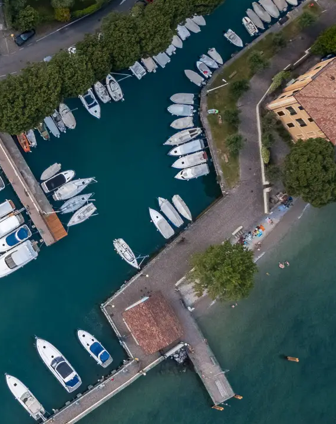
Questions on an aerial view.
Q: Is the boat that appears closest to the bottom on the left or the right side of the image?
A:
left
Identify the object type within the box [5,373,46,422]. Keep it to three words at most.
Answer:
boat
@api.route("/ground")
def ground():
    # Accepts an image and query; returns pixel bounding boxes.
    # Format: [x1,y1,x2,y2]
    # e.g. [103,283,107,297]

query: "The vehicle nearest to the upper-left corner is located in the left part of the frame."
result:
[12,28,37,47]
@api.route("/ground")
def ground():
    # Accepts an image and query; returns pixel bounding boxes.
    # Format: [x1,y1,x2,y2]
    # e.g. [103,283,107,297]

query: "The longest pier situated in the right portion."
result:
[189,312,235,405]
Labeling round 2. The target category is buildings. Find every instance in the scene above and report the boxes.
[274,57,336,145]
[120,292,185,355]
